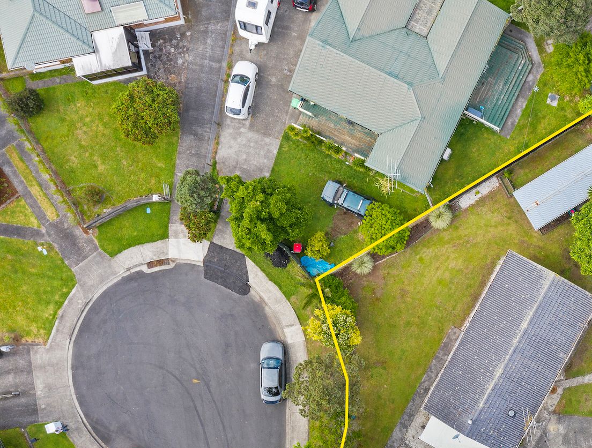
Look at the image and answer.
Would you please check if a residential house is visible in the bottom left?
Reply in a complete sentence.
No, there's no residential house to be seen in the bottom left.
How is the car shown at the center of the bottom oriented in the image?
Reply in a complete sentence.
What the image shows is the car shown at the center of the bottom lying from top to bottom.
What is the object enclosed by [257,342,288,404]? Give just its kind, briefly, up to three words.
car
